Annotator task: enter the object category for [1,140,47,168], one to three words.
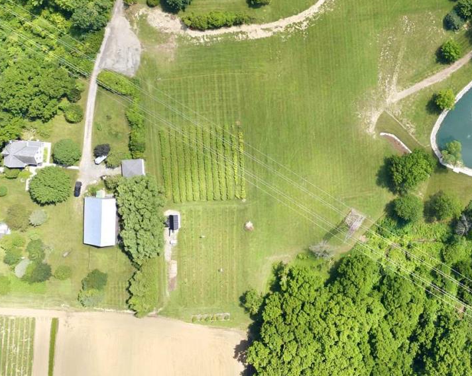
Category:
house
